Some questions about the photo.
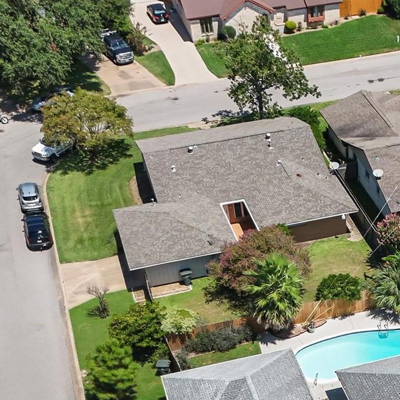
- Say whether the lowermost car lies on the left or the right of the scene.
left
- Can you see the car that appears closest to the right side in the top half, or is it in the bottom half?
top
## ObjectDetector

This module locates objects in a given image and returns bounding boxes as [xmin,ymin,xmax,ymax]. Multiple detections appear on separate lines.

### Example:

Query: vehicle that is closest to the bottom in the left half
[20,216,55,253]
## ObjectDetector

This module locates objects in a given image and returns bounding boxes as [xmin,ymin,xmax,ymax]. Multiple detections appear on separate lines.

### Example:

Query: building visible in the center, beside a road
[113,117,359,291]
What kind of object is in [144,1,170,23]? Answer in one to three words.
car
